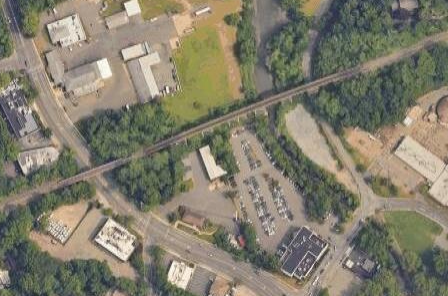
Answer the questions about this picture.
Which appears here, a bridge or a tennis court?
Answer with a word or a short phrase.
bridge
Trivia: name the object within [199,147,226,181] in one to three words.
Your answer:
shed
